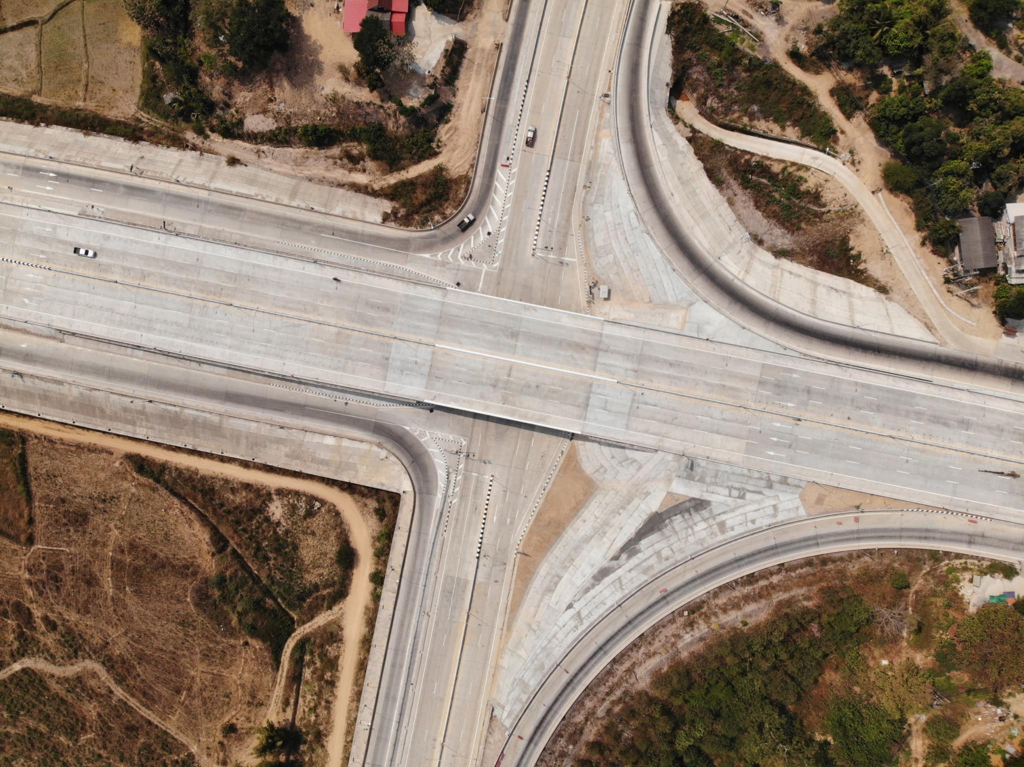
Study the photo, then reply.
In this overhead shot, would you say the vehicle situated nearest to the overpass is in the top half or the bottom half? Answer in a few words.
top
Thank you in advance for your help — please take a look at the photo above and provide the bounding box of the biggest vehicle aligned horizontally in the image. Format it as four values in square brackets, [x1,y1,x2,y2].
[71,246,95,258]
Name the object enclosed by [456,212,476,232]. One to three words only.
vehicle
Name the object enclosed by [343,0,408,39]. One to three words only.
house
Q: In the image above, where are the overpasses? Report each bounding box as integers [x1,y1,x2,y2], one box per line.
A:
[423,287,615,434]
